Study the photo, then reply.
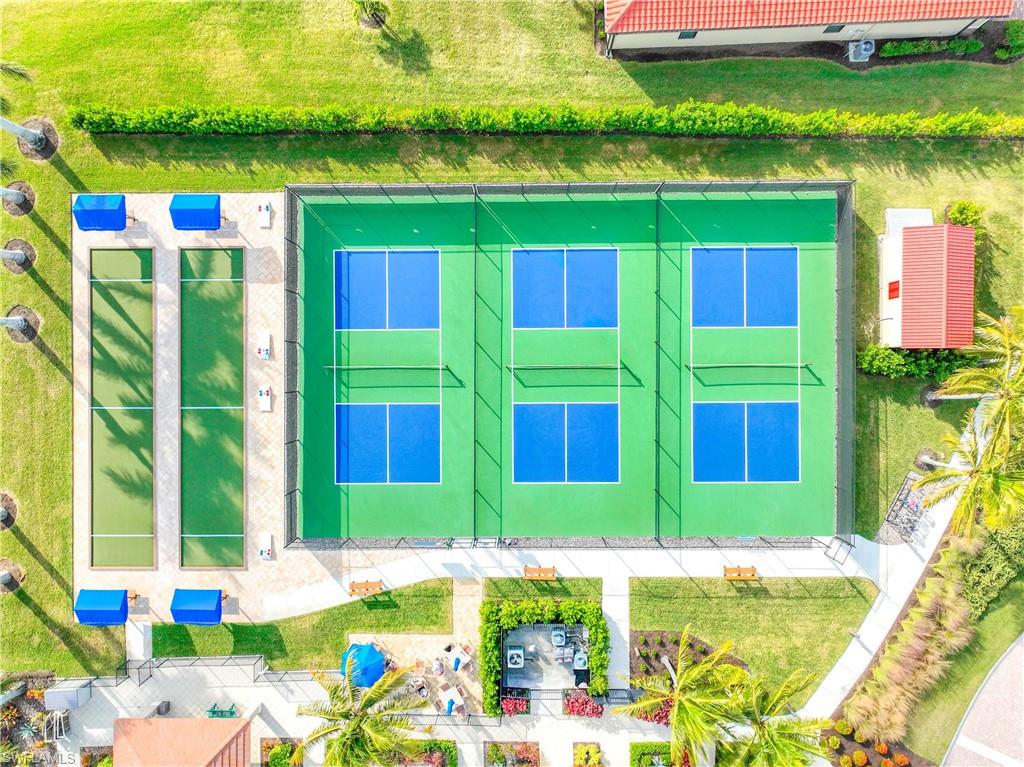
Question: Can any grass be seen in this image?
Yes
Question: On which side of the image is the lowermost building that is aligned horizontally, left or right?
left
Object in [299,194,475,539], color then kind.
green sports court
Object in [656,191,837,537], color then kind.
green sports court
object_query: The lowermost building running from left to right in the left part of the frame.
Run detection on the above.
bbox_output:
[111,697,266,767]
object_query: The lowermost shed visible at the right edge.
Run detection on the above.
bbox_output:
[879,223,975,348]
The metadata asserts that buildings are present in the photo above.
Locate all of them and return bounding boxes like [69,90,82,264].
[603,0,1016,57]
[879,223,975,348]
[111,697,266,767]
